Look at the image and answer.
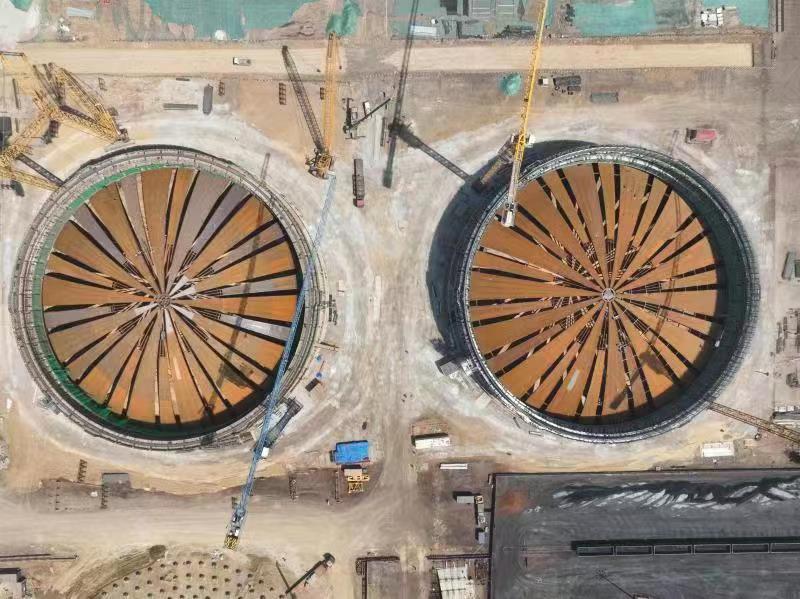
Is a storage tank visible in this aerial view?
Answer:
Yes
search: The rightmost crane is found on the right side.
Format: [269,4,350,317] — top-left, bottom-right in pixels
[705,401,800,442]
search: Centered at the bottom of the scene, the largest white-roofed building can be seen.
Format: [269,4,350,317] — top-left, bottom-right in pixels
[414,433,448,447]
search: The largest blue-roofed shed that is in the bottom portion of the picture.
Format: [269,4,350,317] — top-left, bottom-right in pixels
[334,439,369,462]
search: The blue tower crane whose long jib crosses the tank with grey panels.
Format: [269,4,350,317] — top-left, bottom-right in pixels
[227,176,331,544]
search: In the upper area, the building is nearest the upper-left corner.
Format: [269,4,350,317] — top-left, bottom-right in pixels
[68,8,100,21]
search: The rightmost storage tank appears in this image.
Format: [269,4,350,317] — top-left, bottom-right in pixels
[448,141,762,450]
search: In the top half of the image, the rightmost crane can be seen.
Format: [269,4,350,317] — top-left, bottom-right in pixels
[477,0,548,218]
